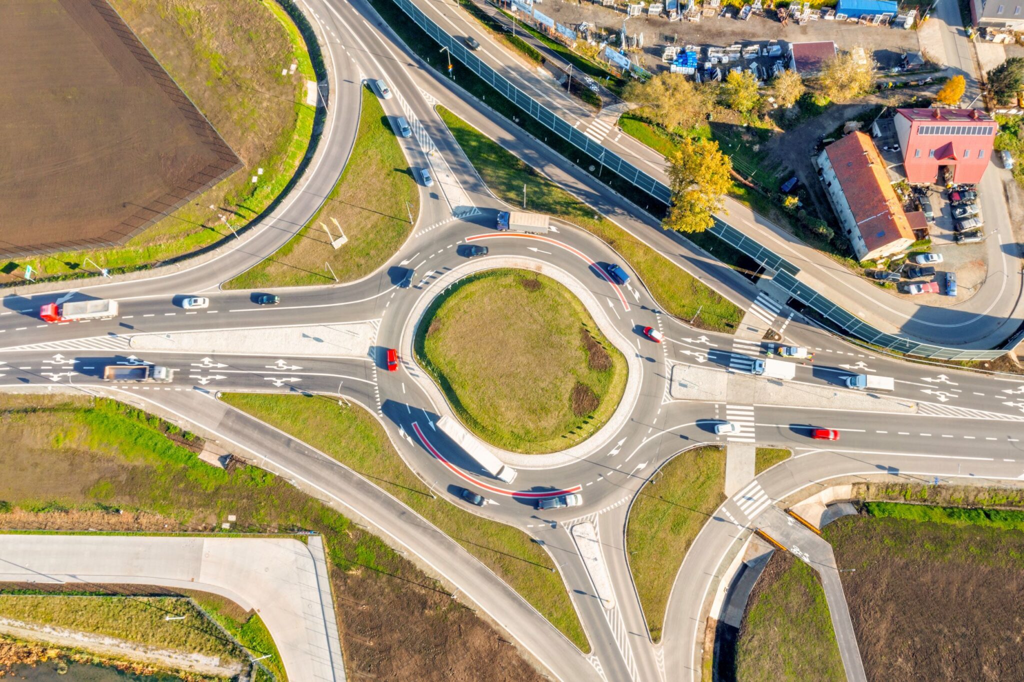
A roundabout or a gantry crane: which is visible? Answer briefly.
roundabout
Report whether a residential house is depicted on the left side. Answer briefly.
No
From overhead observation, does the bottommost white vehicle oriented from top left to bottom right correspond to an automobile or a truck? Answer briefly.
truck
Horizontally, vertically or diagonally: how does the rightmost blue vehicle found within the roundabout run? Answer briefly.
diagonally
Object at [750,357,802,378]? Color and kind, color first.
white truck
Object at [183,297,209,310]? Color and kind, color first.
white vehicle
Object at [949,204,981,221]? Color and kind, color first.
white car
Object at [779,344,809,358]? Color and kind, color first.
white vehicle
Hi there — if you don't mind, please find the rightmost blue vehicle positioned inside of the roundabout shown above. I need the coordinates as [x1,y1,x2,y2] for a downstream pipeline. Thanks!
[607,265,631,286]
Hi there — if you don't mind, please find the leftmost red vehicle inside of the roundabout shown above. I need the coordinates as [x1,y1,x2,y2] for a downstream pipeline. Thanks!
[385,349,398,371]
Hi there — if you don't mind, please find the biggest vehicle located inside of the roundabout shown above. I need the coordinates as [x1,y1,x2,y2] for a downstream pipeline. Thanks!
[433,417,515,486]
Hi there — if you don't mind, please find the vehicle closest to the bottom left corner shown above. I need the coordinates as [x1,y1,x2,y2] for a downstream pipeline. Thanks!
[98,365,170,384]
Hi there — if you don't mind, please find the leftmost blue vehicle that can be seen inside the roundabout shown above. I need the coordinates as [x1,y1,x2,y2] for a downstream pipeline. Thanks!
[400,269,416,288]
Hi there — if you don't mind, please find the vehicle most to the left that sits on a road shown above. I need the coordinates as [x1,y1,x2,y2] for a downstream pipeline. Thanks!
[32,301,119,326]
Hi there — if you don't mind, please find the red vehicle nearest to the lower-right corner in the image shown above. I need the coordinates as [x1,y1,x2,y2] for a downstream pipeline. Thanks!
[811,428,839,441]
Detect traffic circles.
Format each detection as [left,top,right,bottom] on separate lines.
[374,209,726,531]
